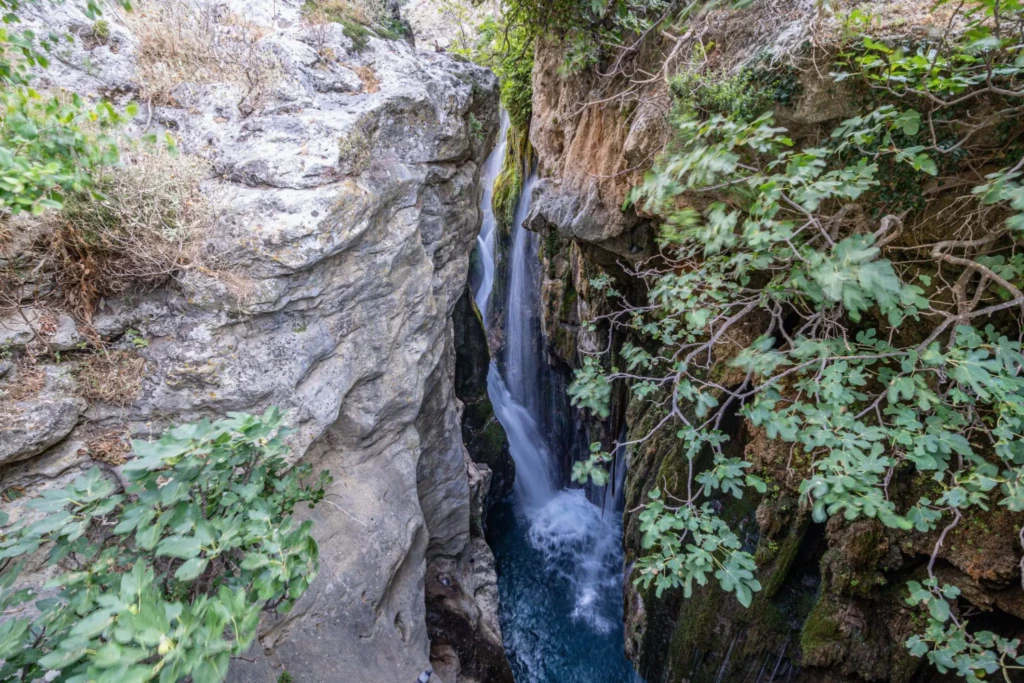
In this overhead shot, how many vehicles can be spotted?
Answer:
0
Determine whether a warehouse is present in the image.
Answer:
No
